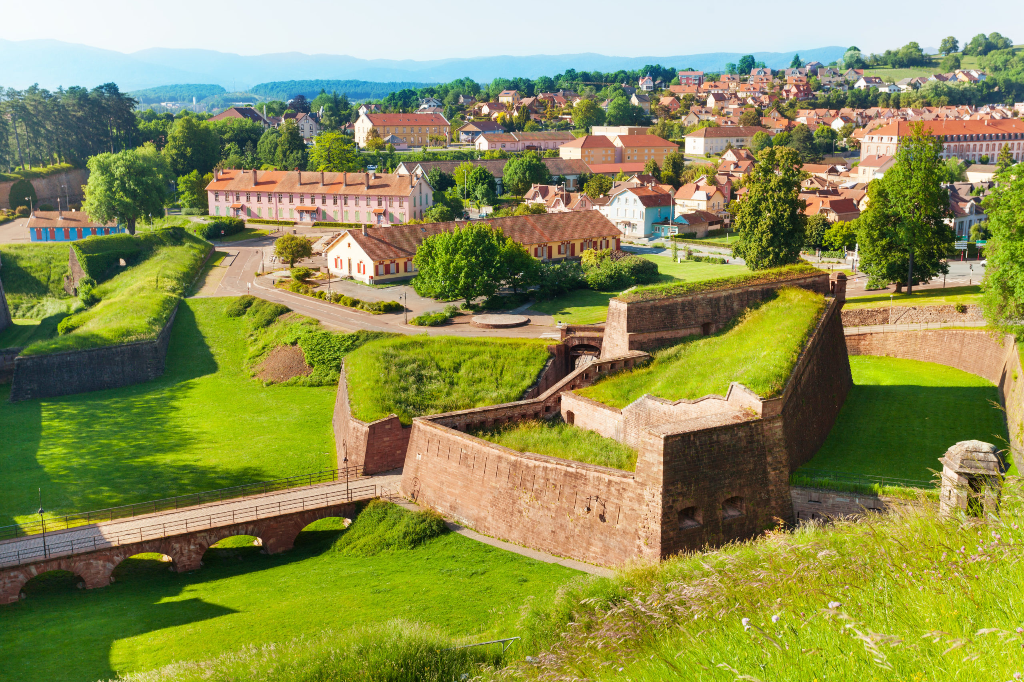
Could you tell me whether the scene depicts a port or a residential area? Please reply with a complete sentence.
This image shows a residential area.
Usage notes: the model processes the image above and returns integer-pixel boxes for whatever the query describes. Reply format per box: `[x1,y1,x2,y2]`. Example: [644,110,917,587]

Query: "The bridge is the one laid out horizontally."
[0,479,395,607]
